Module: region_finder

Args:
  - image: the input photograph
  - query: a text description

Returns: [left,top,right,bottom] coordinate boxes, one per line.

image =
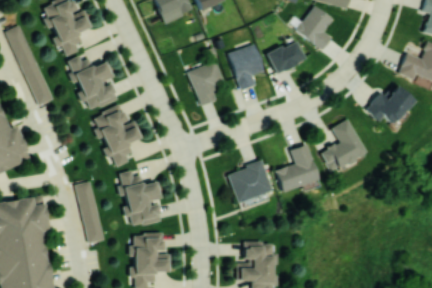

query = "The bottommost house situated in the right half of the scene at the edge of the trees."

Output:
[240,242,281,288]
